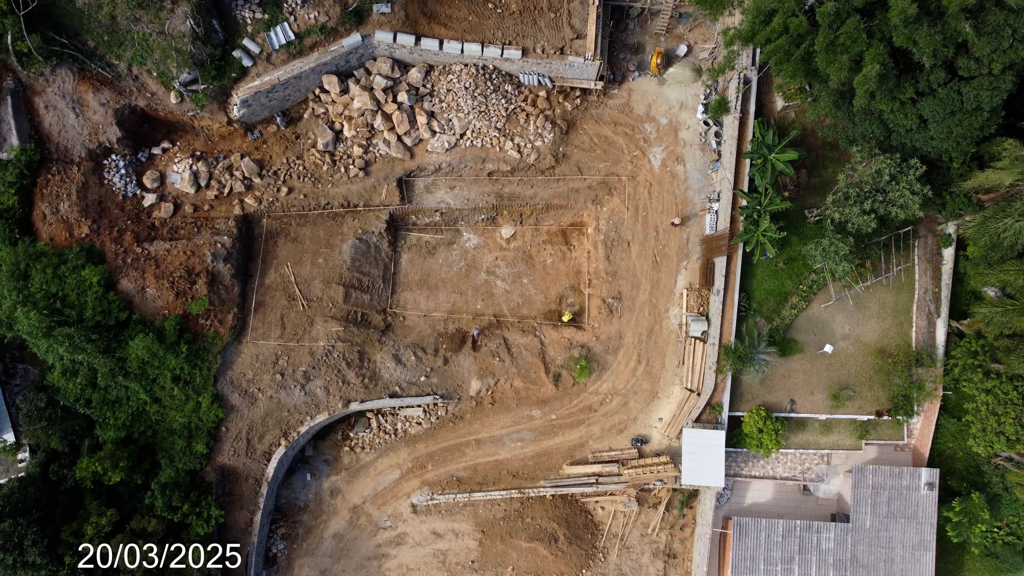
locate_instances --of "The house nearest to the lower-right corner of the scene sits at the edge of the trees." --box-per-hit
[718,458,940,576]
